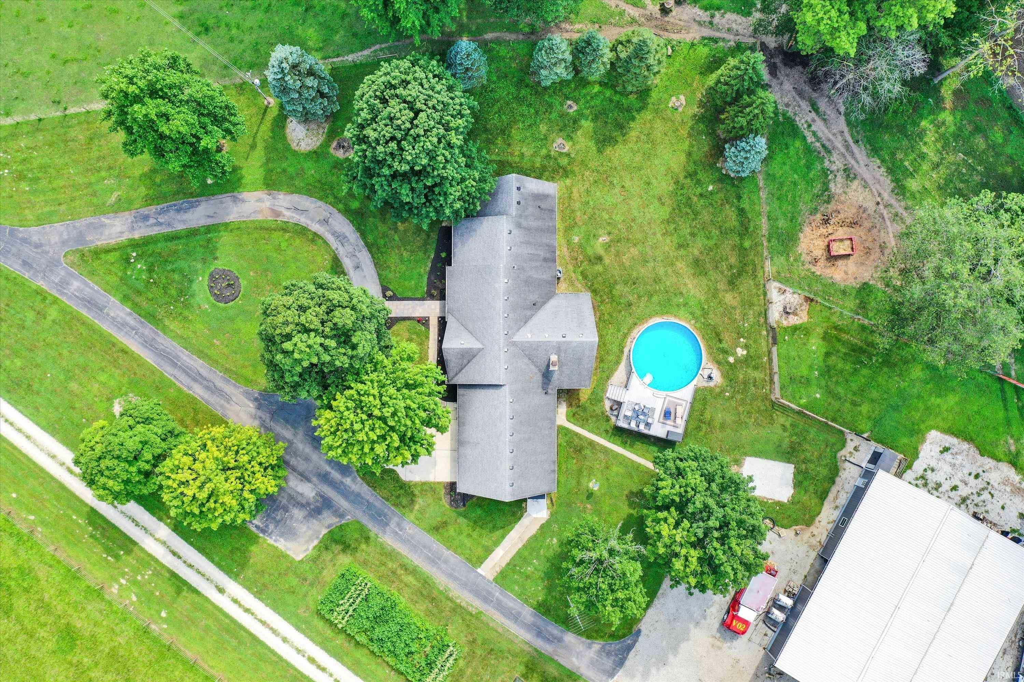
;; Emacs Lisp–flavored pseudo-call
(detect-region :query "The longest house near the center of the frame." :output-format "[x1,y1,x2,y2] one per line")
[442,173,599,502]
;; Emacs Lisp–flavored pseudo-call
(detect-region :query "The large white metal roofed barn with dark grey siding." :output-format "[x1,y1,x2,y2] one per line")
[760,465,1024,682]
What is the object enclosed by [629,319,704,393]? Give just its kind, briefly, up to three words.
swimming pool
